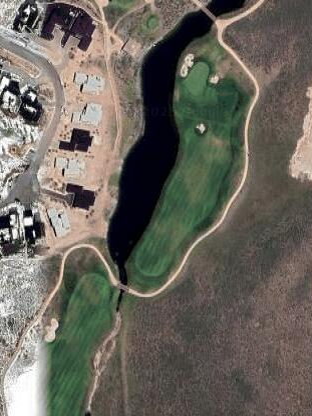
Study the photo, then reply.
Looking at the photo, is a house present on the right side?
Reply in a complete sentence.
No, looking on the right side, there is no house.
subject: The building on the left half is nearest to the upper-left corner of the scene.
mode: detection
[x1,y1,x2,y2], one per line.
[12,0,37,34]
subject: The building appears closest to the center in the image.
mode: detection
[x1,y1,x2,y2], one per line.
[66,183,95,211]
